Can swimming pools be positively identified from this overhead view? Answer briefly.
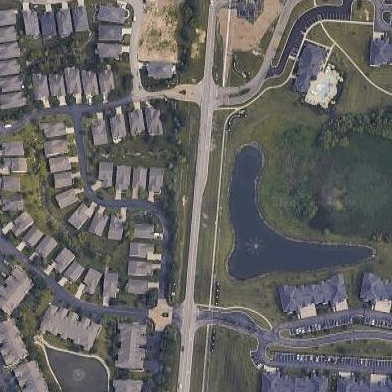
Yes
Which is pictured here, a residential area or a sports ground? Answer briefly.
residential area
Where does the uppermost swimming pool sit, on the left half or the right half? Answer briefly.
right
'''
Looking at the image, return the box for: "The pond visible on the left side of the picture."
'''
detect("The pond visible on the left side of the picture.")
[45,348,108,392]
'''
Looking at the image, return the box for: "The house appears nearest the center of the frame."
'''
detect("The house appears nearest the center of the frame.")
[148,165,164,194]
